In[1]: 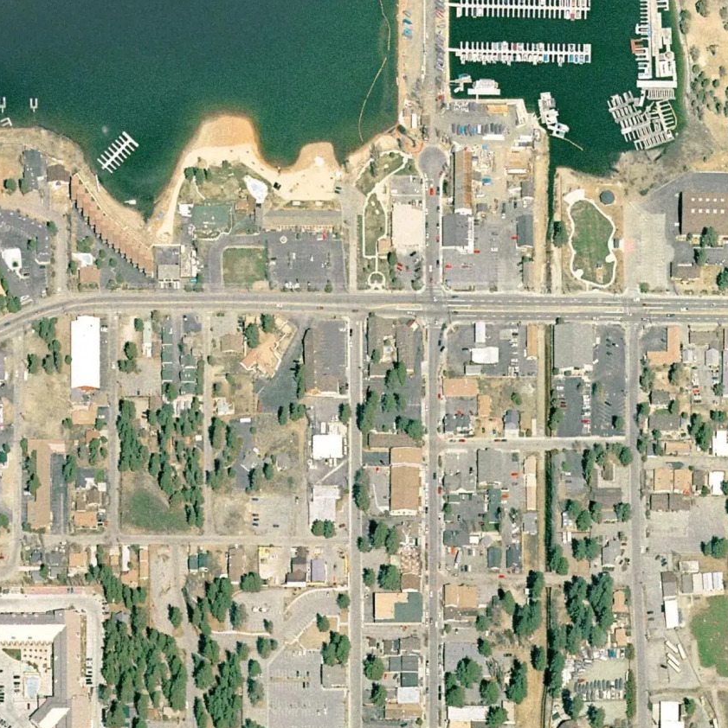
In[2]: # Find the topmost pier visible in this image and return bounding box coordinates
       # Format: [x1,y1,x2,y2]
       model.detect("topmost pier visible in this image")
[446,0,590,18]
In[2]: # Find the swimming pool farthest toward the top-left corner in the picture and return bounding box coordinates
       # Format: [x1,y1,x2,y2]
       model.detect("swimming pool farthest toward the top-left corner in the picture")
[72,251,96,265]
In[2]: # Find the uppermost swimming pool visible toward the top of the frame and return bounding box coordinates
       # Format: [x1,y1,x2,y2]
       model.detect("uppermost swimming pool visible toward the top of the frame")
[244,172,268,203]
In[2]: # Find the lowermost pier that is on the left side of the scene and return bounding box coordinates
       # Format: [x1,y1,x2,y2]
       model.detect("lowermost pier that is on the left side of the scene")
[95,131,139,175]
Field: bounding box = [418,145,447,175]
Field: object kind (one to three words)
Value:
roundabout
